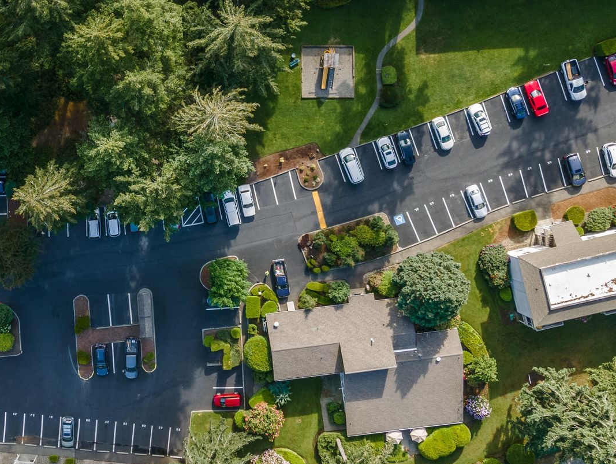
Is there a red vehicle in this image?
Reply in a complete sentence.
Yes, a red vehicle can be made out from above.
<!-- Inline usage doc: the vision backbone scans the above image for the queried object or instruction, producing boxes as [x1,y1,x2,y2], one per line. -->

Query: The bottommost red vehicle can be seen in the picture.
[211,392,244,408]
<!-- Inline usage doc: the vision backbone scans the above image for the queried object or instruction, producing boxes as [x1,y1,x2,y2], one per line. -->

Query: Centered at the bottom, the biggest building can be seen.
[265,293,464,437]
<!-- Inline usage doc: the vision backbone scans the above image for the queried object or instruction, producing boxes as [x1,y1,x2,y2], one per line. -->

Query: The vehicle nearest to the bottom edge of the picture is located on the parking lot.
[58,415,75,447]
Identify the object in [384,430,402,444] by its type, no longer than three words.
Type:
umbrella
